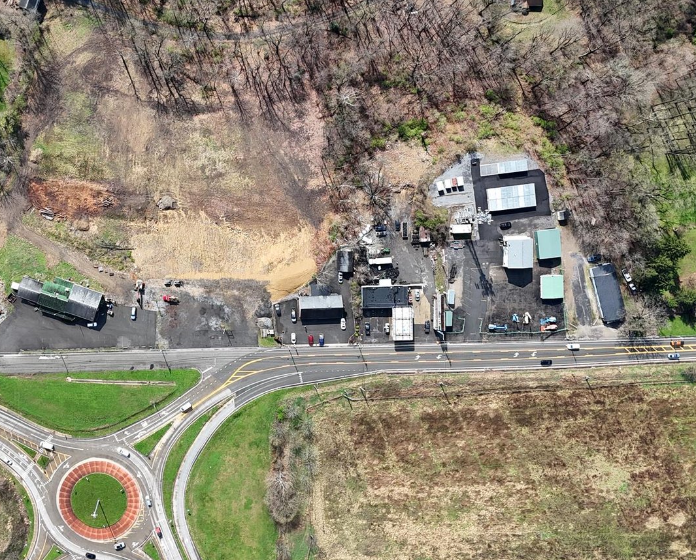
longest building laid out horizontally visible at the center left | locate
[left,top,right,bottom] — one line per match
[10,277,106,326]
